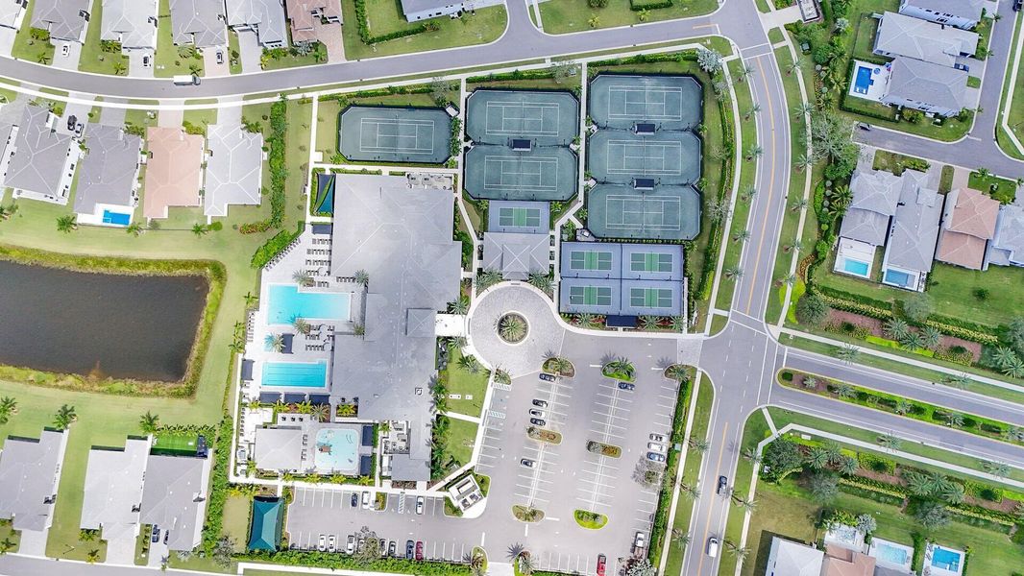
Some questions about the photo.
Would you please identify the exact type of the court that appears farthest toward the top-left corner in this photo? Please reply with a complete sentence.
Looking closely, the court that appears farthest toward the top-left corner is a tennis court.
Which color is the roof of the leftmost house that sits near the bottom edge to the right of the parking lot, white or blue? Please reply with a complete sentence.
From above, the roof of the leftmost house that sits near the bottom edge to the right of the parking lot appears white.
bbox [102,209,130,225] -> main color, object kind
blue swimming pool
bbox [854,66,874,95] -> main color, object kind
blue swimming pool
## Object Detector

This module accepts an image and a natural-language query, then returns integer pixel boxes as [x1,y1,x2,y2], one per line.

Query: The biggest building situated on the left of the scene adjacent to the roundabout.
[332,173,461,482]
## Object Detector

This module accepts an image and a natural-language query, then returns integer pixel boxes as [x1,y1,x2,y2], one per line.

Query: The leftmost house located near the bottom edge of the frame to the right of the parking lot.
[760,533,824,576]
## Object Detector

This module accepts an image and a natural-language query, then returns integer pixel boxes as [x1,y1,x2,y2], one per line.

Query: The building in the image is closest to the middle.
[482,232,551,280]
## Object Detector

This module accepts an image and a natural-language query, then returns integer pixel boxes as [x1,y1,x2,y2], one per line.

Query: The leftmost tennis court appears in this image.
[338,106,451,164]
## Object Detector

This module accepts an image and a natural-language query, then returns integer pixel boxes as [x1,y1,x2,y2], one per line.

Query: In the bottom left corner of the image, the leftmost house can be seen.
[0,428,70,530]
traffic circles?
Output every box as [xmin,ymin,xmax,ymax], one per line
[471,288,566,379]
